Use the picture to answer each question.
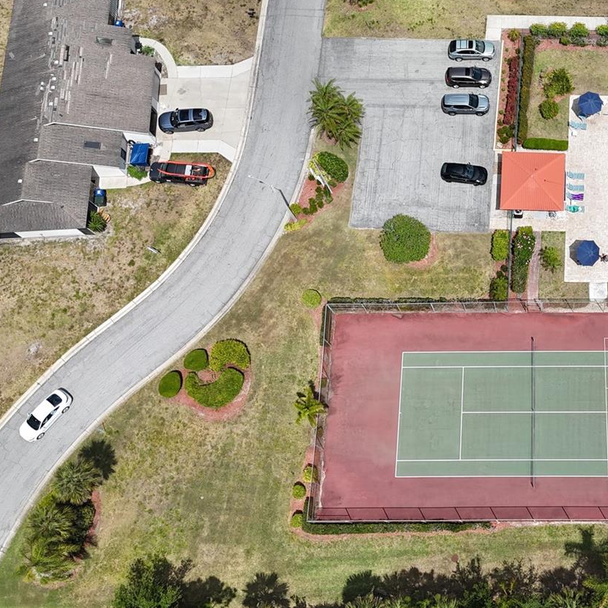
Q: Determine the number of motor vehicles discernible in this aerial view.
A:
7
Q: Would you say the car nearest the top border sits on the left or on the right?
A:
right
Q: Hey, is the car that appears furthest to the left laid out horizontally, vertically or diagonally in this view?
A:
diagonally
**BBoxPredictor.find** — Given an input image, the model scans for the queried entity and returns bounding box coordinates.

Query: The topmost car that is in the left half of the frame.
[160,110,214,135]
